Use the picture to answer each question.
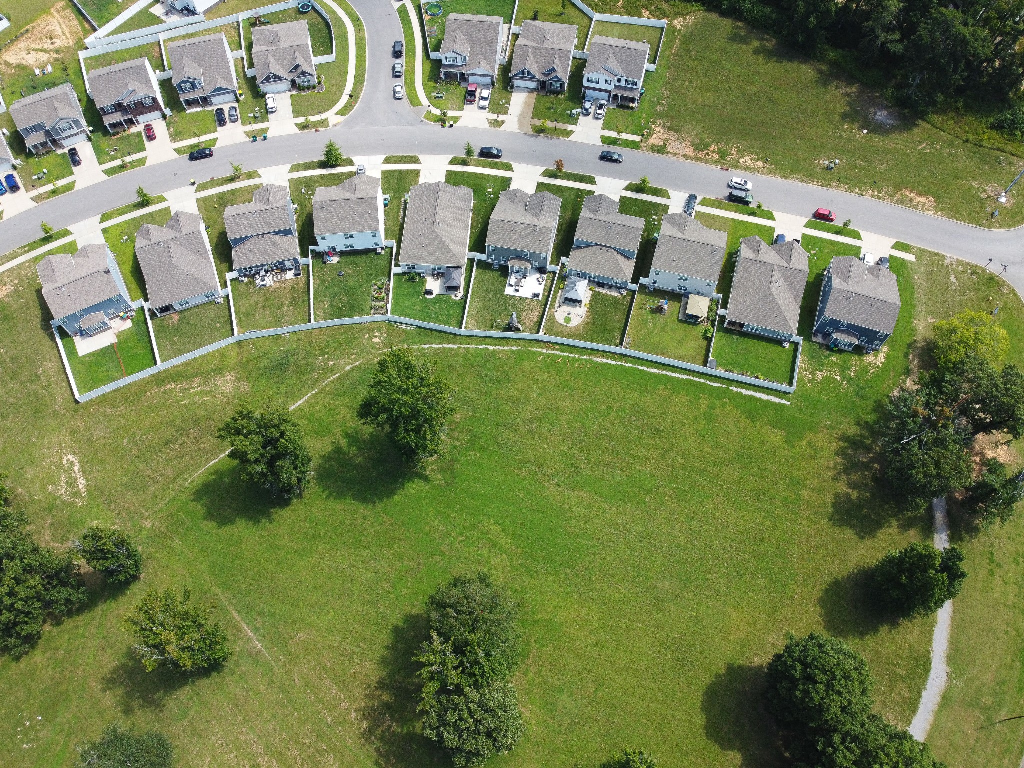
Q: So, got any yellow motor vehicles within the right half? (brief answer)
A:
No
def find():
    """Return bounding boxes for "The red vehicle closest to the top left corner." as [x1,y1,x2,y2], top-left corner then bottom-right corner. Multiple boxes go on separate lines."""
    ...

[143,124,157,141]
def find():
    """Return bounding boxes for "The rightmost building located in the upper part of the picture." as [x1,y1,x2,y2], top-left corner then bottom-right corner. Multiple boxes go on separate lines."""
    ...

[813,257,901,353]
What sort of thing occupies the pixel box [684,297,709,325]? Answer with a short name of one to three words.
gazebo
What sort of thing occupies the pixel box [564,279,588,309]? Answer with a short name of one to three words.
gazebo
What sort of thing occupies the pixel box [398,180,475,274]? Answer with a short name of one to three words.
house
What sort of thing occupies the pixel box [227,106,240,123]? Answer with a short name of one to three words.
vehicle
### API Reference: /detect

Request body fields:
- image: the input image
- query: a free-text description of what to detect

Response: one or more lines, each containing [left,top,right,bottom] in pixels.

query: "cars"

[215,109,228,126]
[479,90,490,108]
[67,148,82,166]
[600,150,625,163]
[878,254,892,268]
[813,206,838,222]
[393,60,403,76]
[728,187,755,205]
[582,98,594,115]
[188,146,214,162]
[227,106,240,123]
[684,194,698,214]
[143,124,157,141]
[478,144,503,158]
[729,177,752,191]
[3,172,21,192]
[265,94,278,112]
[393,40,404,56]
[394,83,404,99]
[595,100,607,118]
[862,251,876,264]
[355,162,367,176]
